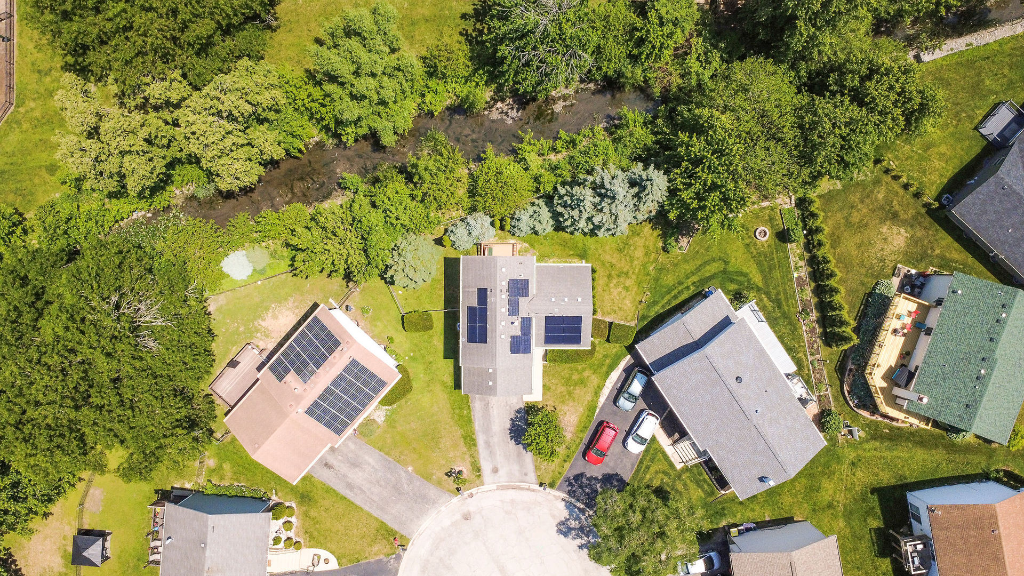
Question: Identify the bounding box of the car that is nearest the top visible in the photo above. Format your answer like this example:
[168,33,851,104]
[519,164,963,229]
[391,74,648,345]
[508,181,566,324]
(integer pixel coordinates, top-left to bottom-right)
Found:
[617,366,652,416]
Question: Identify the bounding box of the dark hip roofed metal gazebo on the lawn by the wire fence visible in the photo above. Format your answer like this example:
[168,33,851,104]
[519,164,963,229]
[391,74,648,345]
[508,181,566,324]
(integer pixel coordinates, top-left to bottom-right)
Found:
[71,528,116,566]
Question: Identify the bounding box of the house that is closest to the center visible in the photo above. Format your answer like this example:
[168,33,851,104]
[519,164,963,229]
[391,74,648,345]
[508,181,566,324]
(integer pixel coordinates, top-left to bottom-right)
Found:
[459,255,594,396]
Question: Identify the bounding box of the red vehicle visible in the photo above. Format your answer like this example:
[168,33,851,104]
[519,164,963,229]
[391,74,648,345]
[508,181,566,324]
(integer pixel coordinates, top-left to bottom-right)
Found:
[586,421,619,469]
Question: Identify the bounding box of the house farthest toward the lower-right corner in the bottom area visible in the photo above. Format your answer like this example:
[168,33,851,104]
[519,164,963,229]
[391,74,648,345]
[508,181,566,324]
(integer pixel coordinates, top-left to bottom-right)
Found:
[903,479,1024,576]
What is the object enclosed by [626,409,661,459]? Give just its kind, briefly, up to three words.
car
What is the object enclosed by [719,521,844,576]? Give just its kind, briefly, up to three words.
house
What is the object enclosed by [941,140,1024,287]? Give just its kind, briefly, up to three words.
house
